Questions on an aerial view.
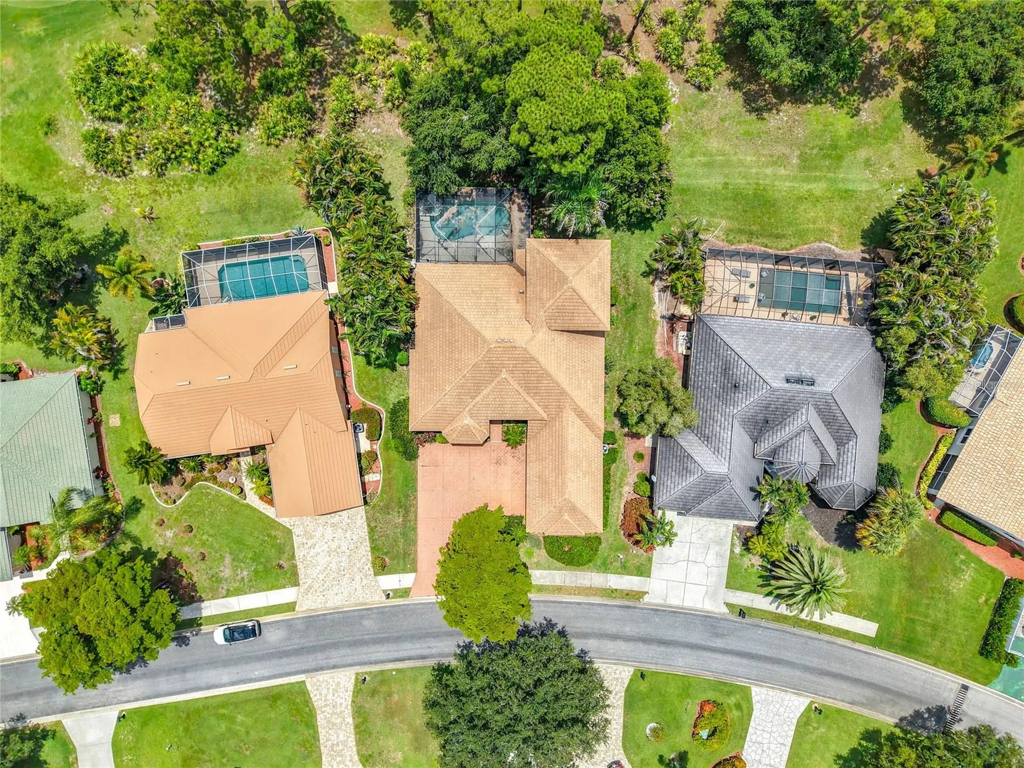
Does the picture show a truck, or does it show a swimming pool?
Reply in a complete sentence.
The one in the frame is a swimming pool.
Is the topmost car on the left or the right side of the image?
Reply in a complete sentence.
It is on the left.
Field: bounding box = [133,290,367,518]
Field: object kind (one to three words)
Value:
house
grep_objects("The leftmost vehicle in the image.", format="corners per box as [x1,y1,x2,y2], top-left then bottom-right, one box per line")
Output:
[213,618,264,646]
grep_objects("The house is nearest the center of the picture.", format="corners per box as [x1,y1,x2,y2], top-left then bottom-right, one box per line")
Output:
[409,238,612,536]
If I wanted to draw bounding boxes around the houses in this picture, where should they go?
[925,308,1024,541]
[133,290,367,518]
[651,313,886,522]
[0,373,111,580]
[409,238,612,536]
